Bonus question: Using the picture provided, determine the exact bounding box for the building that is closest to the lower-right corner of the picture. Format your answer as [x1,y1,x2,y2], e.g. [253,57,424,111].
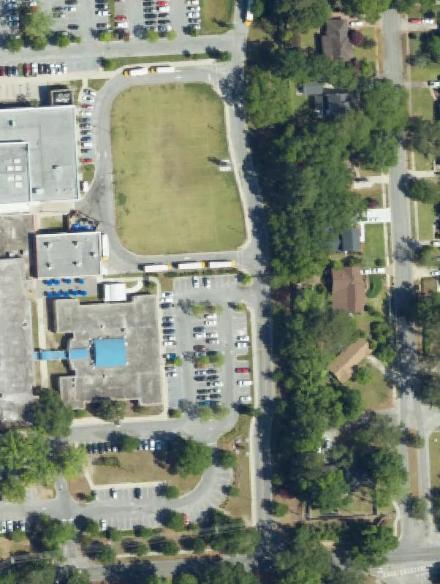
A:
[327,338,371,384]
